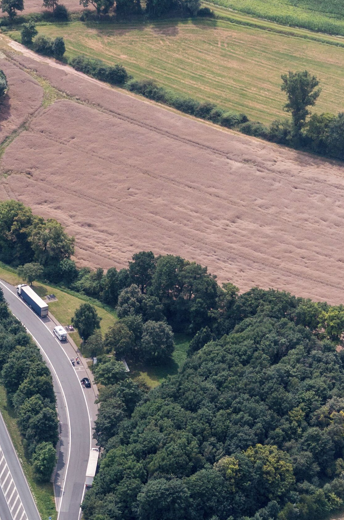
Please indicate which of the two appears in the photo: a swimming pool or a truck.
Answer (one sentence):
This aerial view contains a truck.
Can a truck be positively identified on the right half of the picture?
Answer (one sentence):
No, the scene shows no truck on the right half of the picture.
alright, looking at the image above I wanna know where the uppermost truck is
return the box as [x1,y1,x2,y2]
[13,283,48,316]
